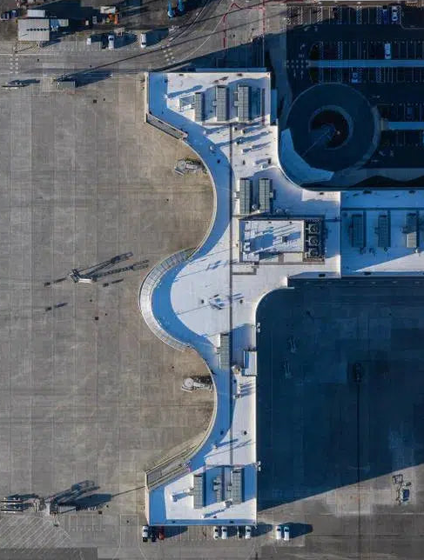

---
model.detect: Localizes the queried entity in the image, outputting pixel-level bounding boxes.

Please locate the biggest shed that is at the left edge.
[18,19,50,41]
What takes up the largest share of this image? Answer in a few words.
paved ground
